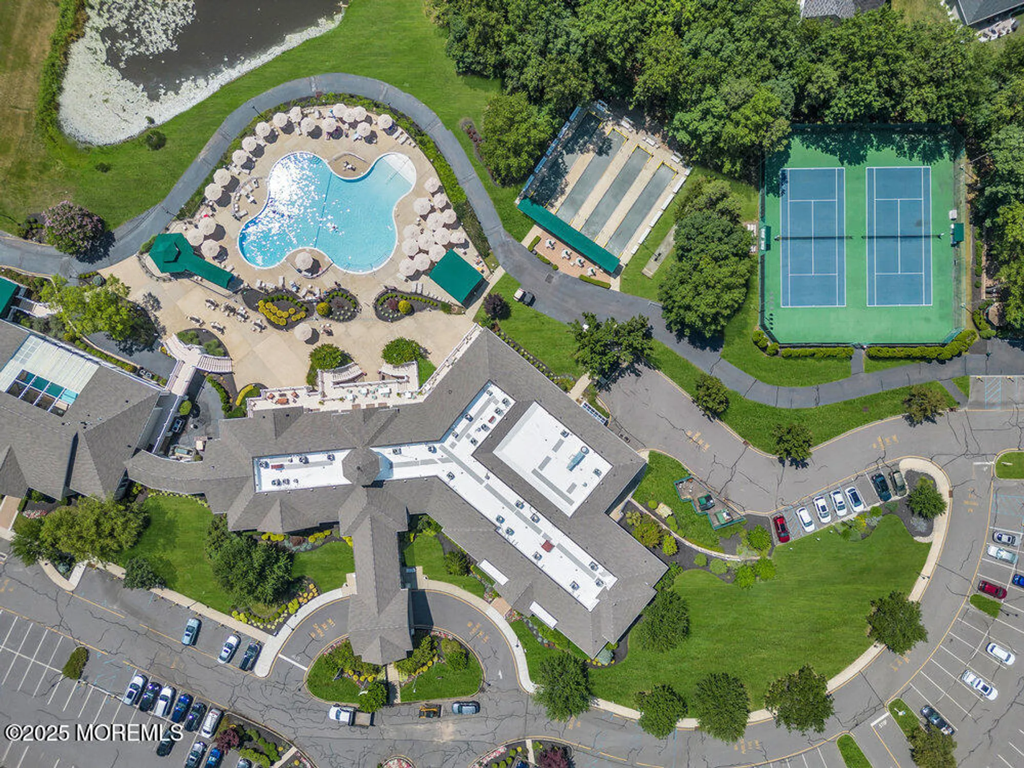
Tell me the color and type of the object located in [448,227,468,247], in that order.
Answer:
white umbrella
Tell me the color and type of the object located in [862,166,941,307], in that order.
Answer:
blue tennis court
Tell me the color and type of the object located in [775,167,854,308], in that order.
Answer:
blue tennis court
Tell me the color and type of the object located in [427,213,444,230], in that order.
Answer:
white umbrella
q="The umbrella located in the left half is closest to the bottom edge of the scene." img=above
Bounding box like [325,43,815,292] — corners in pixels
[294,323,313,341]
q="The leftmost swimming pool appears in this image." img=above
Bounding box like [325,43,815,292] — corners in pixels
[25,374,76,404]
